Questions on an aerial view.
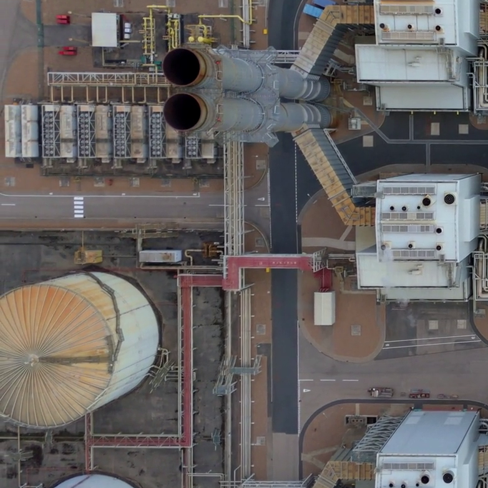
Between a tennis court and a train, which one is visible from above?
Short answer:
train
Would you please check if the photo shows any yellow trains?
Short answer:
Yes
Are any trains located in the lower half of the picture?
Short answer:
No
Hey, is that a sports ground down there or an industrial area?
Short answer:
industrial area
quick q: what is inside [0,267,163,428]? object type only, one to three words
storage tank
